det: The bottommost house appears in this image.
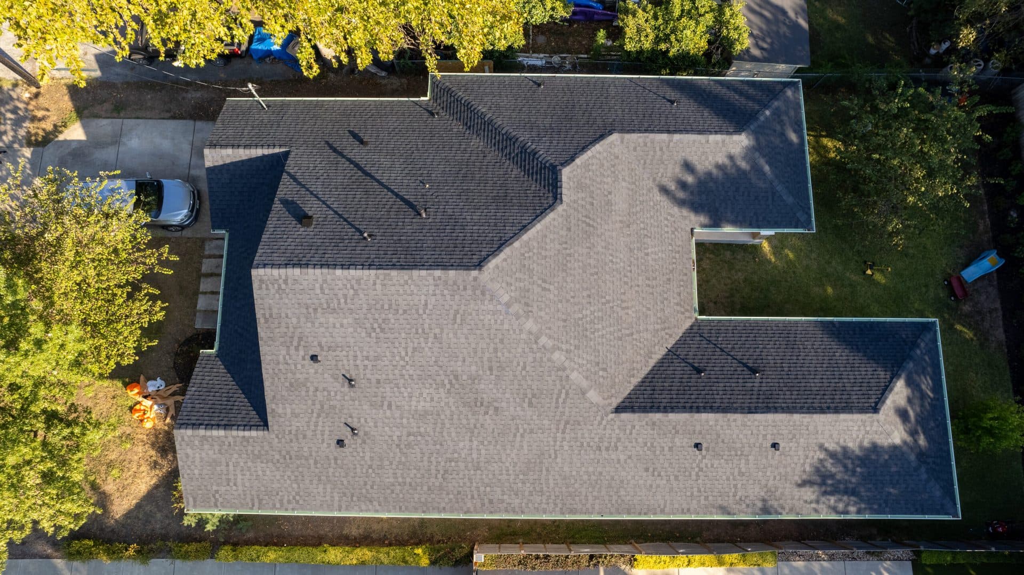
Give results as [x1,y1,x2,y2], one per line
[172,70,965,523]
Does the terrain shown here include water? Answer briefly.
No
